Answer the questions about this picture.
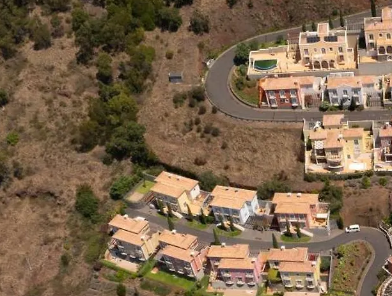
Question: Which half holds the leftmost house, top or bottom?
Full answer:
You can find the leftmost house in the bottom half.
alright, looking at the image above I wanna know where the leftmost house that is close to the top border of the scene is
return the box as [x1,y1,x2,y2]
[247,11,358,86]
